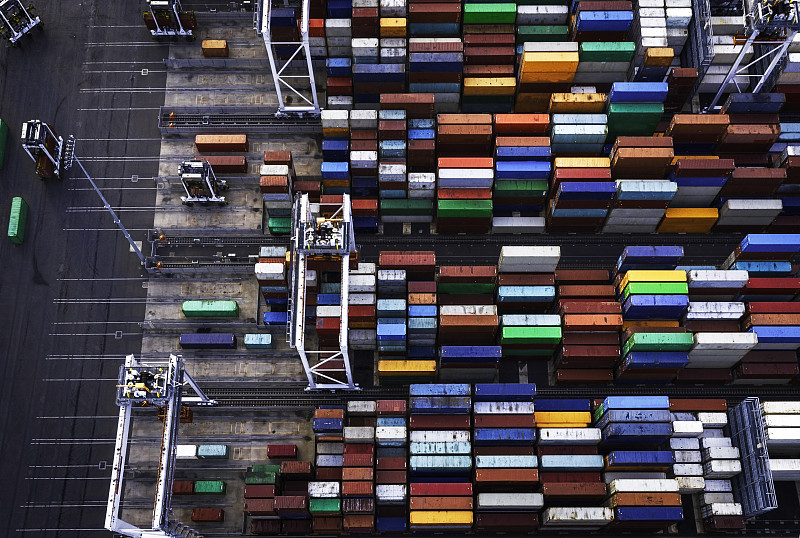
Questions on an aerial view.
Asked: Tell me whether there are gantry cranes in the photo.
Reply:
Yes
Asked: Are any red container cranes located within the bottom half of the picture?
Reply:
No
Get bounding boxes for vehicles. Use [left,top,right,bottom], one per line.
[143,0,194,40]
[0,0,44,45]
[173,156,227,205]
[15,118,65,176]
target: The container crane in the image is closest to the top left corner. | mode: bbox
[254,0,327,116]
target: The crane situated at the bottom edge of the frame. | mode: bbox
[102,358,222,538]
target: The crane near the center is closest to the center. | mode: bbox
[288,194,365,392]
